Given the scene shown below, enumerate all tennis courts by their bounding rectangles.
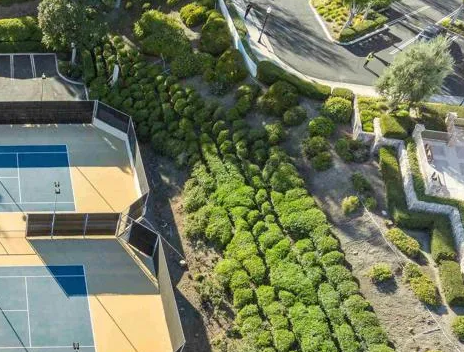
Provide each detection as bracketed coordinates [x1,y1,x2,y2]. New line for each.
[0,144,76,212]
[0,265,95,352]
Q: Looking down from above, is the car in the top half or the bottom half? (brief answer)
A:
top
